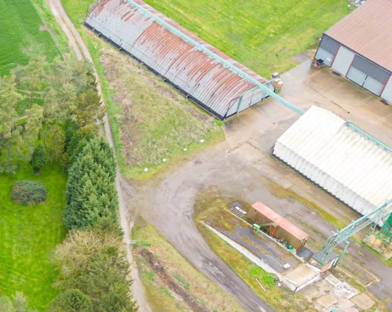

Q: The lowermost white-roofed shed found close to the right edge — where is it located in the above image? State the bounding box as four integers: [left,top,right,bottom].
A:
[272,106,392,226]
